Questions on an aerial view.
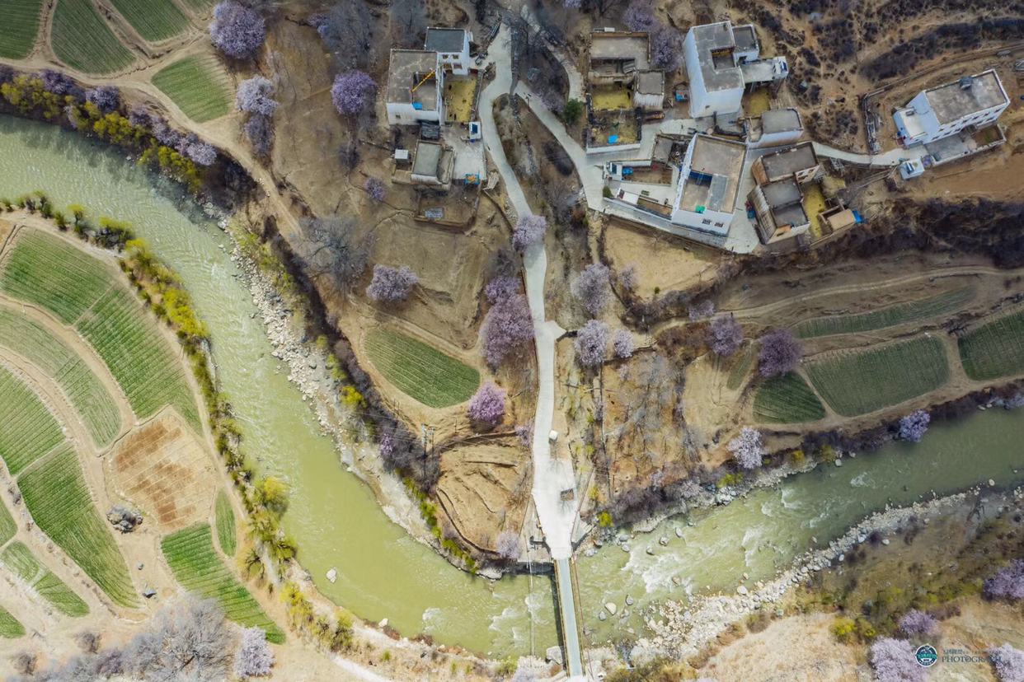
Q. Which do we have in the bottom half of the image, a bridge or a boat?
bridge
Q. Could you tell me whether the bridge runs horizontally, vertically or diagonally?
vertically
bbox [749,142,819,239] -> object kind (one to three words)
house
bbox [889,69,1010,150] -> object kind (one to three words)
house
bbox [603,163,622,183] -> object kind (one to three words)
shed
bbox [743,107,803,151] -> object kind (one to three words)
barn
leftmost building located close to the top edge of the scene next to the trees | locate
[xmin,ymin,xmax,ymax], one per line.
[386,28,469,132]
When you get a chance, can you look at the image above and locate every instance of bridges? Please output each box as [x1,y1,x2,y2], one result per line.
[551,555,591,681]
